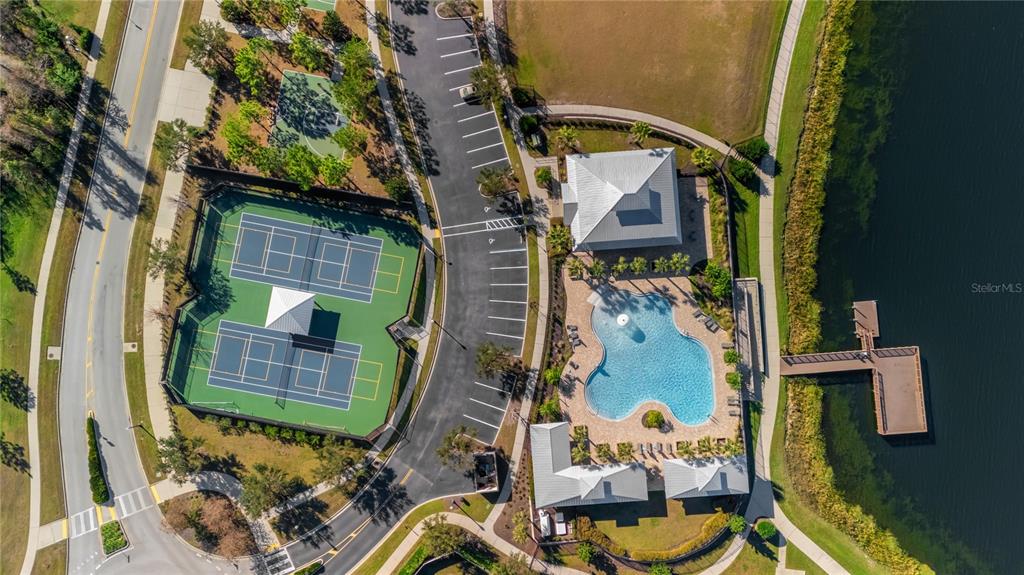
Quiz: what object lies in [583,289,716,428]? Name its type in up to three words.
swimming pool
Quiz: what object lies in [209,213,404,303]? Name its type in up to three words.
tennis court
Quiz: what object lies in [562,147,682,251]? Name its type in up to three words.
building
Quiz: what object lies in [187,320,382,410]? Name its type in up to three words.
tennis court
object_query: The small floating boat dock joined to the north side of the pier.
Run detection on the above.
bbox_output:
[852,300,879,351]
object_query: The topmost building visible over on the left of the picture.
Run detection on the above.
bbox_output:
[265,287,316,335]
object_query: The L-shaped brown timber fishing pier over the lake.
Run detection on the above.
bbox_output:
[780,346,930,436]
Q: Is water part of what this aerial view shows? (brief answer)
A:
Yes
